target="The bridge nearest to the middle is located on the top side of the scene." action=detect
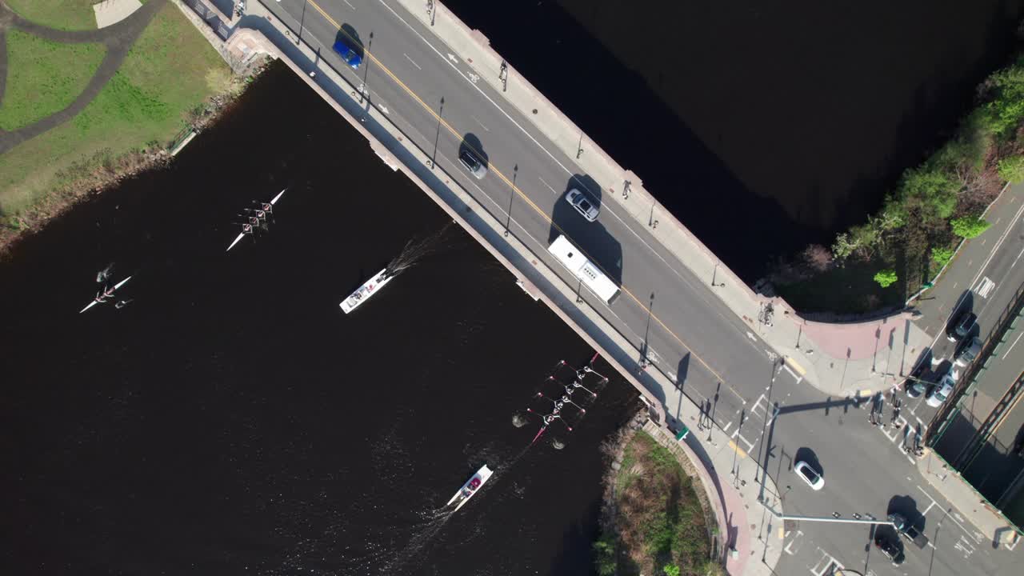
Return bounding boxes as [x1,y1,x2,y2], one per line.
[197,0,786,433]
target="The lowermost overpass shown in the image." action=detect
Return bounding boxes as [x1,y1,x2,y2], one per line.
[925,446,1024,533]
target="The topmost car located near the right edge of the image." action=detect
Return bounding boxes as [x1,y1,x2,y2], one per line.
[944,306,977,343]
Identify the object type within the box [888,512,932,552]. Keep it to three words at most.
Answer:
truck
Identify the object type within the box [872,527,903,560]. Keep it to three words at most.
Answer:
car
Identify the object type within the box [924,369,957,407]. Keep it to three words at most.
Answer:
car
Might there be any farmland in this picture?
No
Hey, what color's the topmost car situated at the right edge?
black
